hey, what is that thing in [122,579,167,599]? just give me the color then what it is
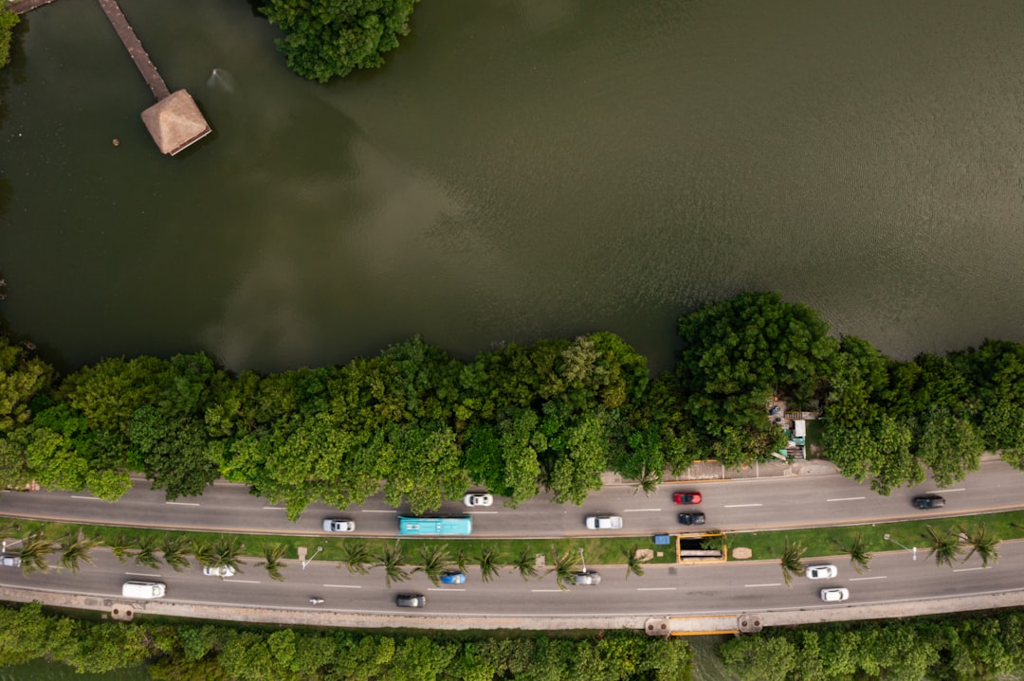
white vehicle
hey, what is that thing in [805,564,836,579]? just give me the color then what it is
white car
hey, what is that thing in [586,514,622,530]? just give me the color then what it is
white vehicle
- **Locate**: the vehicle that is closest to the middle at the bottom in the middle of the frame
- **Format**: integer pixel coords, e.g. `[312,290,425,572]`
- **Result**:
[464,492,493,507]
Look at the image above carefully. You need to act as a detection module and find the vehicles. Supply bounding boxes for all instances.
[323,517,355,532]
[819,587,848,602]
[677,511,705,526]
[464,492,493,507]
[397,593,425,608]
[395,511,475,534]
[205,564,236,579]
[441,570,467,585]
[805,564,836,579]
[586,514,622,530]
[570,570,600,586]
[673,490,701,505]
[122,579,167,599]
[0,554,23,569]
